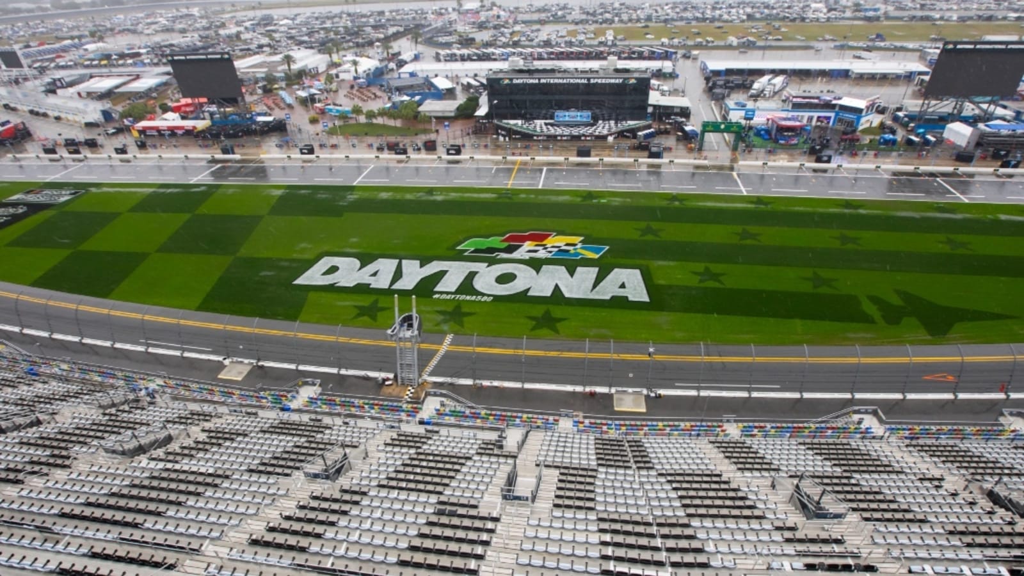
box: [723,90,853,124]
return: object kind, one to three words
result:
building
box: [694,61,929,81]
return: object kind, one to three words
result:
building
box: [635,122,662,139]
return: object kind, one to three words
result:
vehicle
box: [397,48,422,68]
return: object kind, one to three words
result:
vehicle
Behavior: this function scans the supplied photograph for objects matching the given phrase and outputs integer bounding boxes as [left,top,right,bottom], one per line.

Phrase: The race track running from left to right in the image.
[0,286,1024,393]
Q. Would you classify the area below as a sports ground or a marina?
sports ground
